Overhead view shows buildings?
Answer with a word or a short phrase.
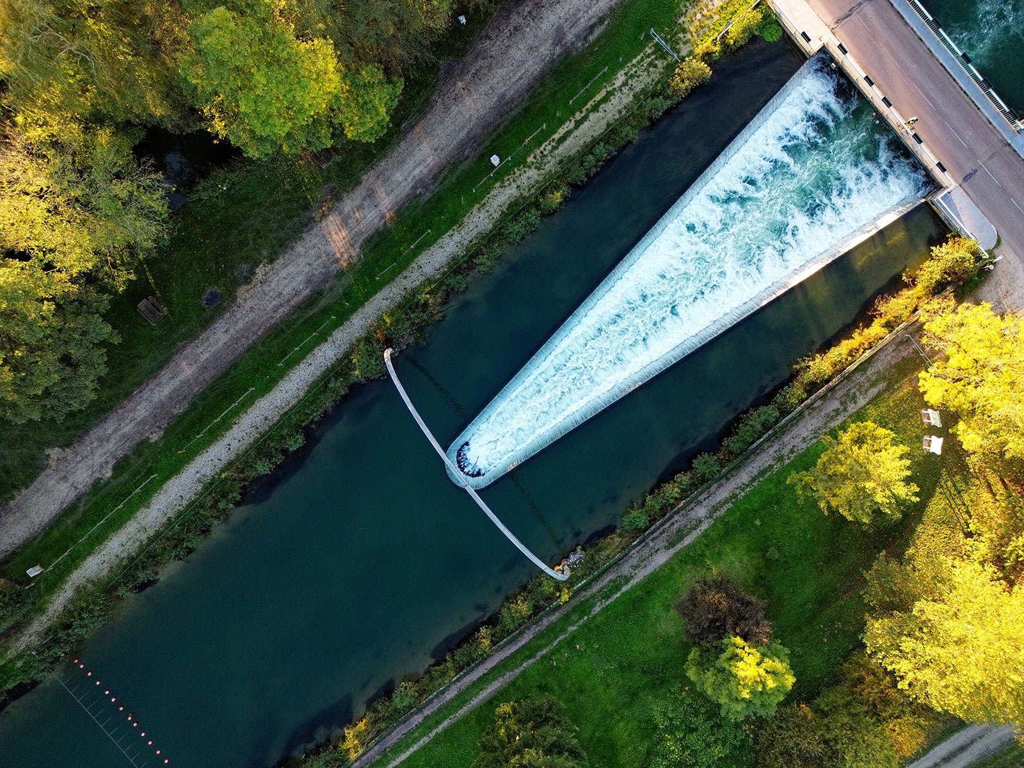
No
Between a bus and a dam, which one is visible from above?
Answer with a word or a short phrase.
dam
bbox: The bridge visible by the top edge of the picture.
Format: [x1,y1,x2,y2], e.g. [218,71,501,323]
[764,0,1024,259]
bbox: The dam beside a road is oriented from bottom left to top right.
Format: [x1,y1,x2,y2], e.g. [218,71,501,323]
[445,58,926,489]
